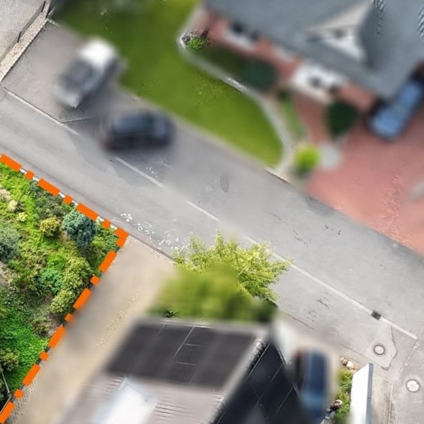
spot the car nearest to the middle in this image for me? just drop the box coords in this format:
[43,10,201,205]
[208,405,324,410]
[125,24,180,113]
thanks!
[98,109,174,152]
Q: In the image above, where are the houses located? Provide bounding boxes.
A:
[64,317,314,424]
[187,0,424,115]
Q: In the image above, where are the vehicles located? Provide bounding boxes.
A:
[287,341,341,423]
[59,37,123,107]
[98,109,174,152]
[368,74,424,137]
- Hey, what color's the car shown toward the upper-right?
blue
